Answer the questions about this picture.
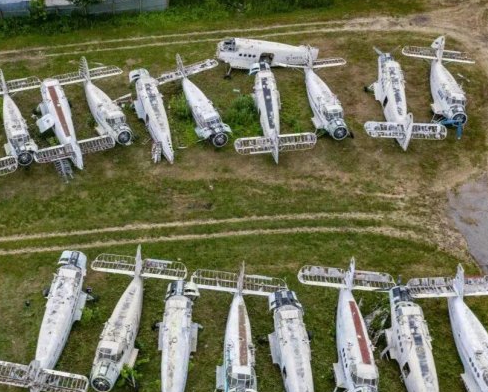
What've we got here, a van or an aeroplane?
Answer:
aeroplane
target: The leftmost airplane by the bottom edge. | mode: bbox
[0,250,97,392]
